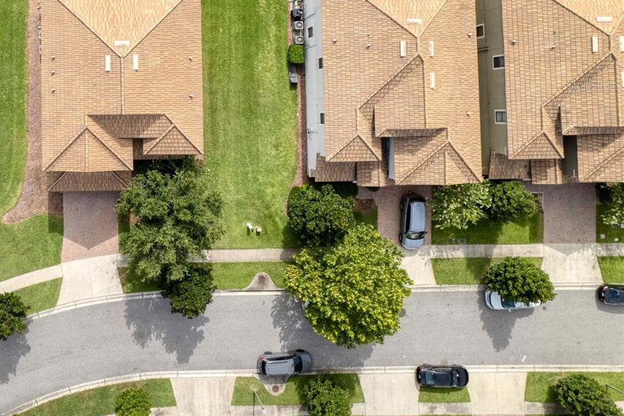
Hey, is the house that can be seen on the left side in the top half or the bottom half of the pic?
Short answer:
top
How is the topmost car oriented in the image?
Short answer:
up and down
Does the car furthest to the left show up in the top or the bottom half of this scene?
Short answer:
bottom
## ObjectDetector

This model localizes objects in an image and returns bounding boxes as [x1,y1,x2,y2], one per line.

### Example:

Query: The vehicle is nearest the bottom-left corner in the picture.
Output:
[258,352,315,381]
